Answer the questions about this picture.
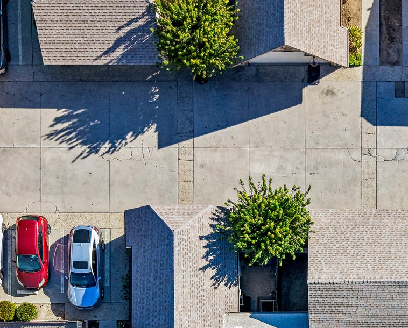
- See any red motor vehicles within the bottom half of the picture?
Yes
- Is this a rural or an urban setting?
urban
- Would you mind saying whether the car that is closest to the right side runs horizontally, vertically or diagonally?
vertically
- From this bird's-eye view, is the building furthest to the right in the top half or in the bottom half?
bottom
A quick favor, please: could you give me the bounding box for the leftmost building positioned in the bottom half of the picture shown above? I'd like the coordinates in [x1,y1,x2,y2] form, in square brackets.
[124,203,241,328]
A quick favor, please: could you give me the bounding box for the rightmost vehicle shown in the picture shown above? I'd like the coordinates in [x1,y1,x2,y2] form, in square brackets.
[64,226,105,311]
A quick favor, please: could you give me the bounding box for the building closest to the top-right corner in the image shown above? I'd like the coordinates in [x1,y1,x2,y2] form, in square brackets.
[234,0,349,68]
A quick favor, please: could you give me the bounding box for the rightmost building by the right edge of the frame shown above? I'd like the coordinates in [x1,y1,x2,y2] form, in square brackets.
[308,209,408,328]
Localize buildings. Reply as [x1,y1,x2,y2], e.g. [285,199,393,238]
[31,0,165,66]
[308,209,408,328]
[124,203,241,328]
[234,0,349,68]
